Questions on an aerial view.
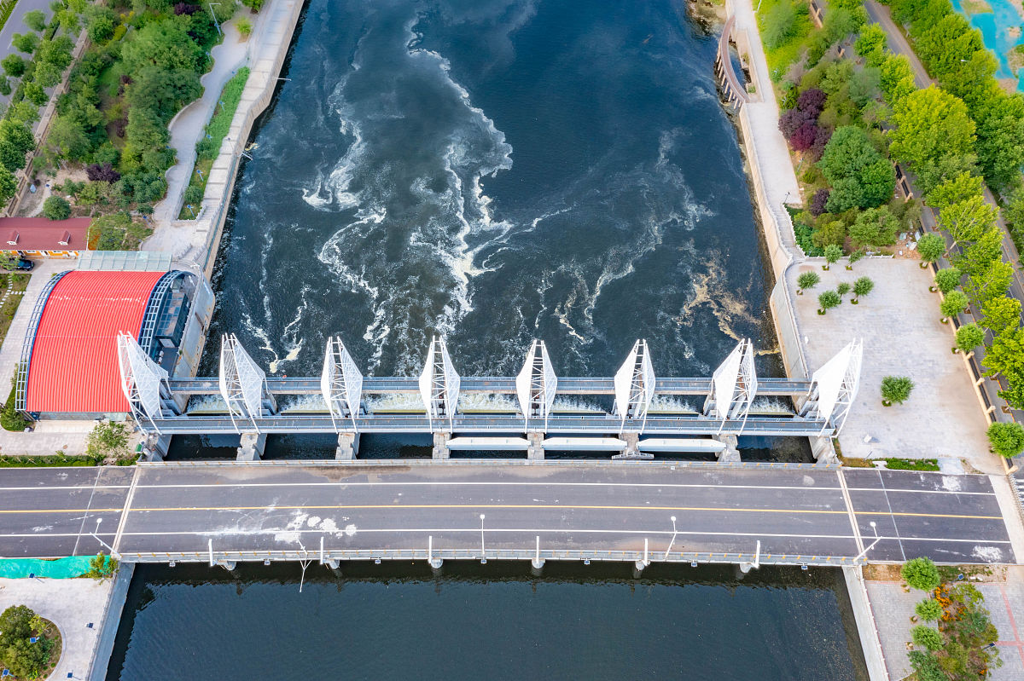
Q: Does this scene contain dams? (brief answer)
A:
Yes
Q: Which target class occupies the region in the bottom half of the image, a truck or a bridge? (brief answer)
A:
bridge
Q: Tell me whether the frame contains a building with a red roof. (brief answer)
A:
Yes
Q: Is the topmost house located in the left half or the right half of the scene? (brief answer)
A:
left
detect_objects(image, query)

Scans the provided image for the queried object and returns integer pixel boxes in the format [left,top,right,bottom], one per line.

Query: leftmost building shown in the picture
[0,216,102,259]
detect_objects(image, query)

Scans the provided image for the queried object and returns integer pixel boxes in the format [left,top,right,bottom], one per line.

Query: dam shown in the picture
[124,375,835,463]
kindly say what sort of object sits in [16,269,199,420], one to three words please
building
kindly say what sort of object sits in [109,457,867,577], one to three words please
bridge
